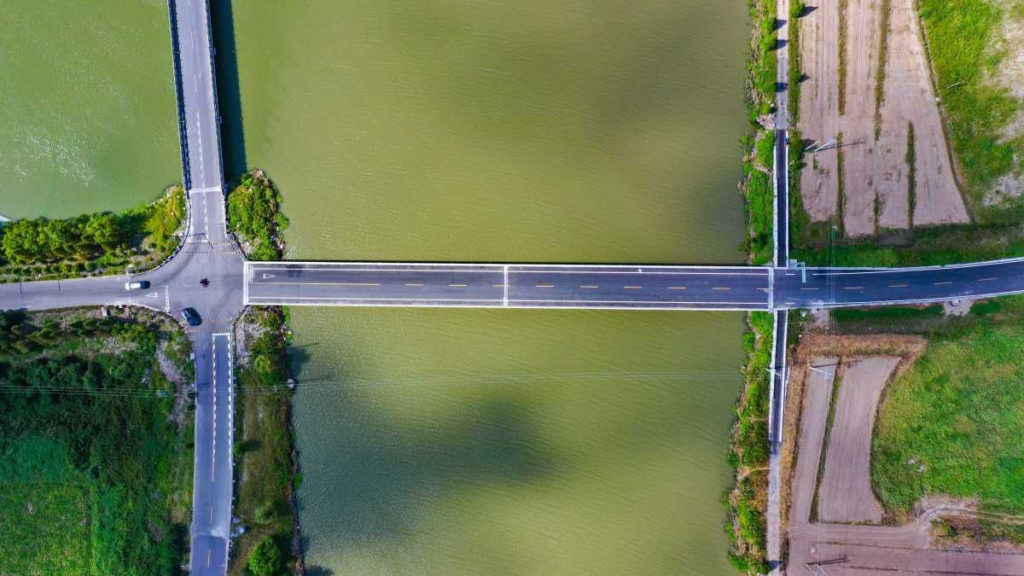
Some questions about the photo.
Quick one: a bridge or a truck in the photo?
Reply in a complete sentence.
The one in the frame is a bridge.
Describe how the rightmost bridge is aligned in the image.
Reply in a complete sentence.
In this picture, the rightmost bridge is oriented from side to side.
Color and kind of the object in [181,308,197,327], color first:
blue car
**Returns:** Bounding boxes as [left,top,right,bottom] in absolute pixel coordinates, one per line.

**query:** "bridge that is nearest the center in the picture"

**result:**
[245,262,773,311]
